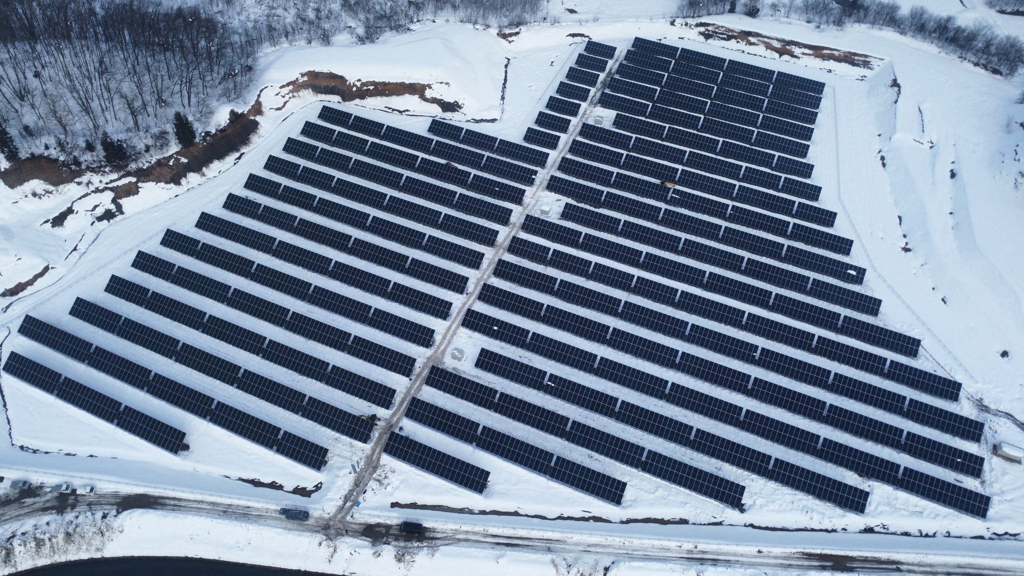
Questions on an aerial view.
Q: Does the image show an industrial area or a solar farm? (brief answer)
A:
solar farm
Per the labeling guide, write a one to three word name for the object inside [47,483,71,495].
vehicle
